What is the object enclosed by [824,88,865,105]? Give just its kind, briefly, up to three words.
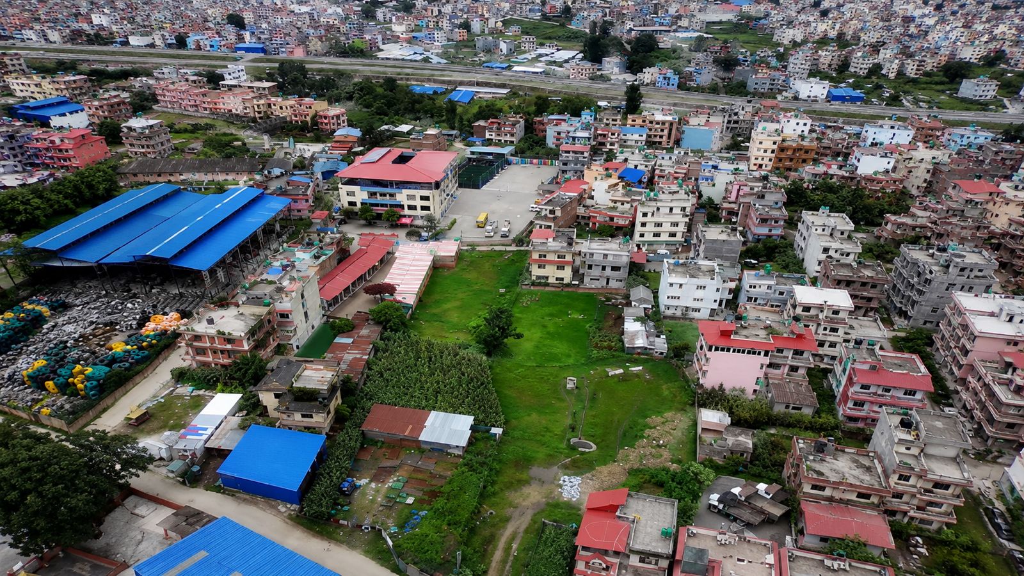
shed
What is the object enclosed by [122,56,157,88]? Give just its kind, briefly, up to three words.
house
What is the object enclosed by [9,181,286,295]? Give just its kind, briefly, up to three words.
shed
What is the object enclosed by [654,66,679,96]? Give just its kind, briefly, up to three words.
house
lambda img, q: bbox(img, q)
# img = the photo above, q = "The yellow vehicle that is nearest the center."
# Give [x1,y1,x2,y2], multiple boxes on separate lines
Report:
[475,211,488,230]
